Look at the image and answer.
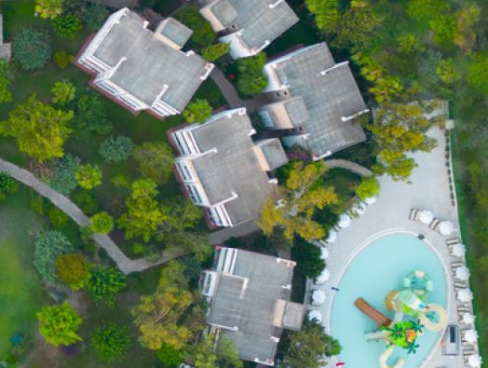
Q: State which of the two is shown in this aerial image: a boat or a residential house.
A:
residential house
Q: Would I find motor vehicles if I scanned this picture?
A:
No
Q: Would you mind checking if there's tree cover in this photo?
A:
Yes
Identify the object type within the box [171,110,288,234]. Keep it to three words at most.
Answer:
house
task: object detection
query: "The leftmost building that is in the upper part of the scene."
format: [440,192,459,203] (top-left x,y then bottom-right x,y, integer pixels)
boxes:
[86,6,215,128]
